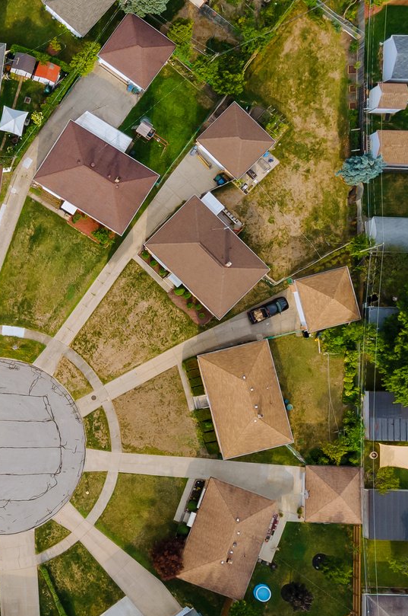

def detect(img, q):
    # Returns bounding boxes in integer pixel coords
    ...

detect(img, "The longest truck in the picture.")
[248,296,292,324]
